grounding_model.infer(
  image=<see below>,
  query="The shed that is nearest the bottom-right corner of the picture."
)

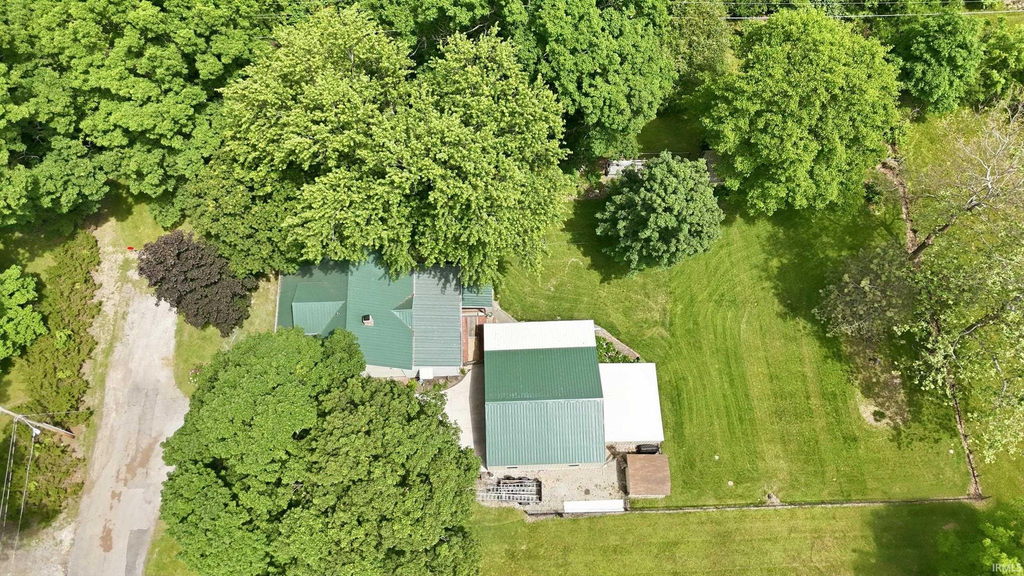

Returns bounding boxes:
[624,452,671,498]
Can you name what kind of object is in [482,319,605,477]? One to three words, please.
building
